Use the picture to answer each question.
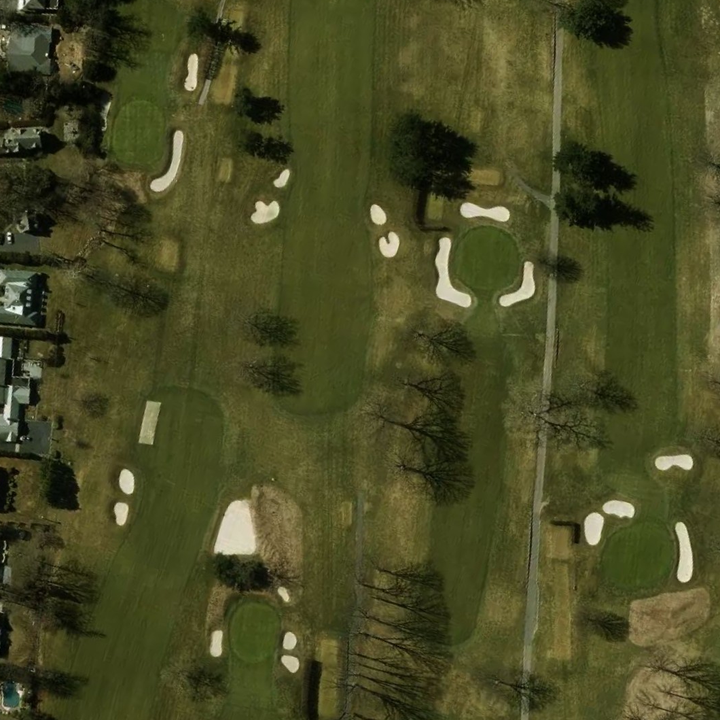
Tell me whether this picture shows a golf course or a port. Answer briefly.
golf course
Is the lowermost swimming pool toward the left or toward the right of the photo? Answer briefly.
left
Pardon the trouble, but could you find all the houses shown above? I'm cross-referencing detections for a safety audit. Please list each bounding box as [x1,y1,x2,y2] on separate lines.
[0,127,41,154]
[17,209,38,233]
[17,0,58,12]
[0,336,30,442]
[0,270,47,326]
[7,24,53,75]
